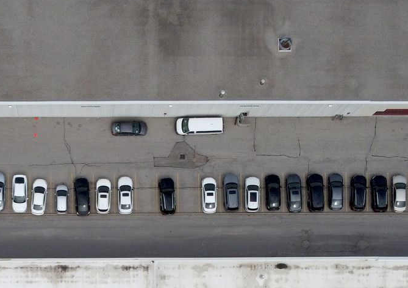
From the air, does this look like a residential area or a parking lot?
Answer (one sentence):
The area seen from above is a parking lot.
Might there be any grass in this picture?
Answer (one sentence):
No, there's no grass in this view.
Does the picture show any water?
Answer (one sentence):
No, there's no water in this view.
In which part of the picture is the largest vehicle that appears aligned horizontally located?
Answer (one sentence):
You can find the largest vehicle that appears aligned horizontally in the center area of the picture.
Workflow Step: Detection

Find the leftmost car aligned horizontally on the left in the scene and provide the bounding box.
[111,120,147,137]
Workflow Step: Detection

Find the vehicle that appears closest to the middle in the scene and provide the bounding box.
[175,115,224,136]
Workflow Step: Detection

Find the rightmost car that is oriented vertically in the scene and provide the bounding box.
[390,175,408,213]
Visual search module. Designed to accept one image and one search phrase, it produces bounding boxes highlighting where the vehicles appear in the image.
[200,177,218,215]
[285,174,303,213]
[369,175,389,214]
[111,120,147,137]
[390,175,408,213]
[264,175,282,211]
[175,115,224,136]
[222,174,240,213]
[117,177,135,215]
[31,178,48,216]
[158,178,176,216]
[326,174,343,210]
[305,174,325,213]
[10,175,29,214]
[73,177,91,217]
[54,185,70,214]
[243,177,262,213]
[95,179,113,215]
[0,173,7,211]
[349,175,368,211]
